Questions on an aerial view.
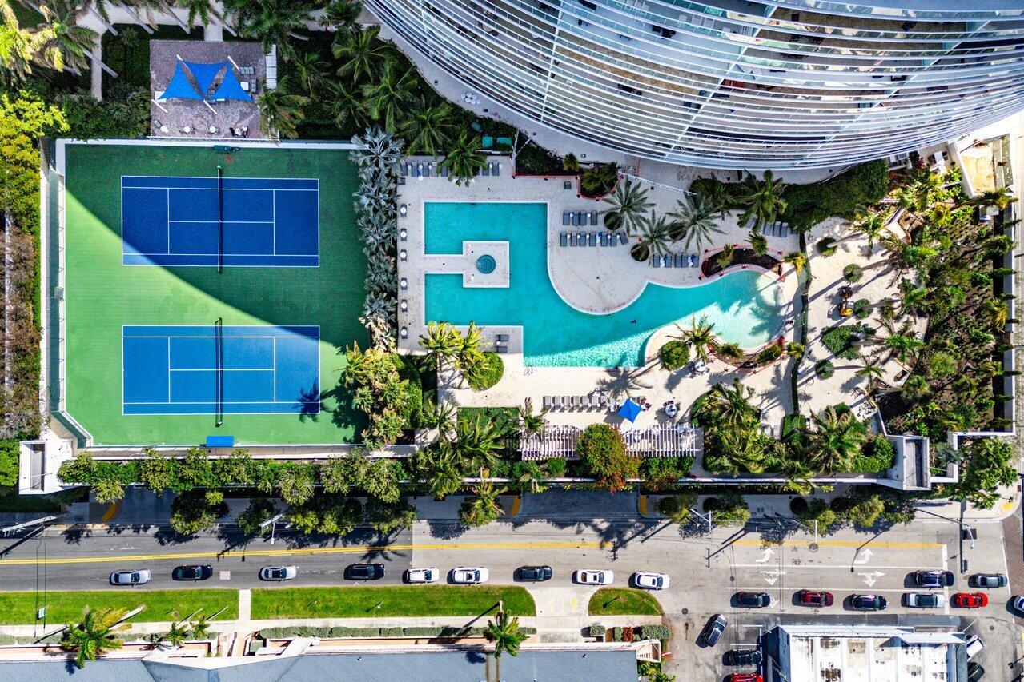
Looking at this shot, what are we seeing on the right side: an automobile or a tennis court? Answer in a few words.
automobile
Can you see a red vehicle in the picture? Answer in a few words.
Yes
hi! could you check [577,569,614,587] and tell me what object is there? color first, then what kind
white car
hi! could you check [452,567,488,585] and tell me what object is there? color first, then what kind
white car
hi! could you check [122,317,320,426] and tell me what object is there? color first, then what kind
blue tennis court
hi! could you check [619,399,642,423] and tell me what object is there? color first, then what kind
blue umbrella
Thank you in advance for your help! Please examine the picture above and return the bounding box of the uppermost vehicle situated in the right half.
[837,280,853,307]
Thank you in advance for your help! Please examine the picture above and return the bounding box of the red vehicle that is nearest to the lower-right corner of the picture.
[953,592,988,610]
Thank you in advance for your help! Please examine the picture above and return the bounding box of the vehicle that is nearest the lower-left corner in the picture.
[112,569,151,586]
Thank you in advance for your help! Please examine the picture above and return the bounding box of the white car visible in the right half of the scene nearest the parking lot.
[634,572,671,591]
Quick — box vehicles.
[913,570,954,589]
[850,594,888,613]
[175,565,213,582]
[577,569,614,587]
[699,612,727,650]
[1008,593,1024,611]
[348,563,385,581]
[967,656,991,682]
[517,565,554,583]
[798,590,836,609]
[953,592,988,610]
[725,649,762,667]
[971,572,1010,590]
[404,567,440,585]
[452,567,488,585]
[112,569,151,586]
[261,566,299,583]
[734,592,772,610]
[904,592,942,610]
[837,280,853,307]
[634,572,671,591]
